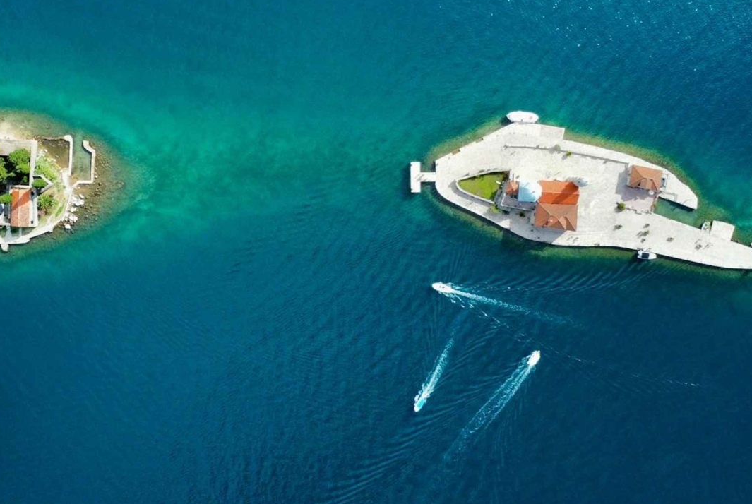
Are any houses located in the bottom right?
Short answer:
No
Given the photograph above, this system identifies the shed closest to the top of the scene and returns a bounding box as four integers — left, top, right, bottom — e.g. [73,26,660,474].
[0,140,38,176]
